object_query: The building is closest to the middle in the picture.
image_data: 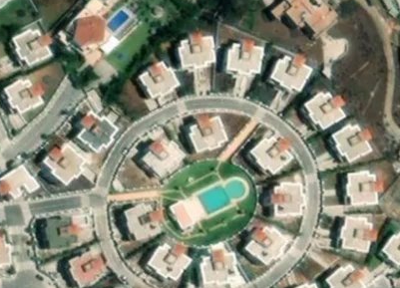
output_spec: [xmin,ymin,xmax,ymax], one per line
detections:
[189,116,232,157]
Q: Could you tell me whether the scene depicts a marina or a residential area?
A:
residential area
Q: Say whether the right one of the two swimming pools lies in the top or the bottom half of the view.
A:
bottom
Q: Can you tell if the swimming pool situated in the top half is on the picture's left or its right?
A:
left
